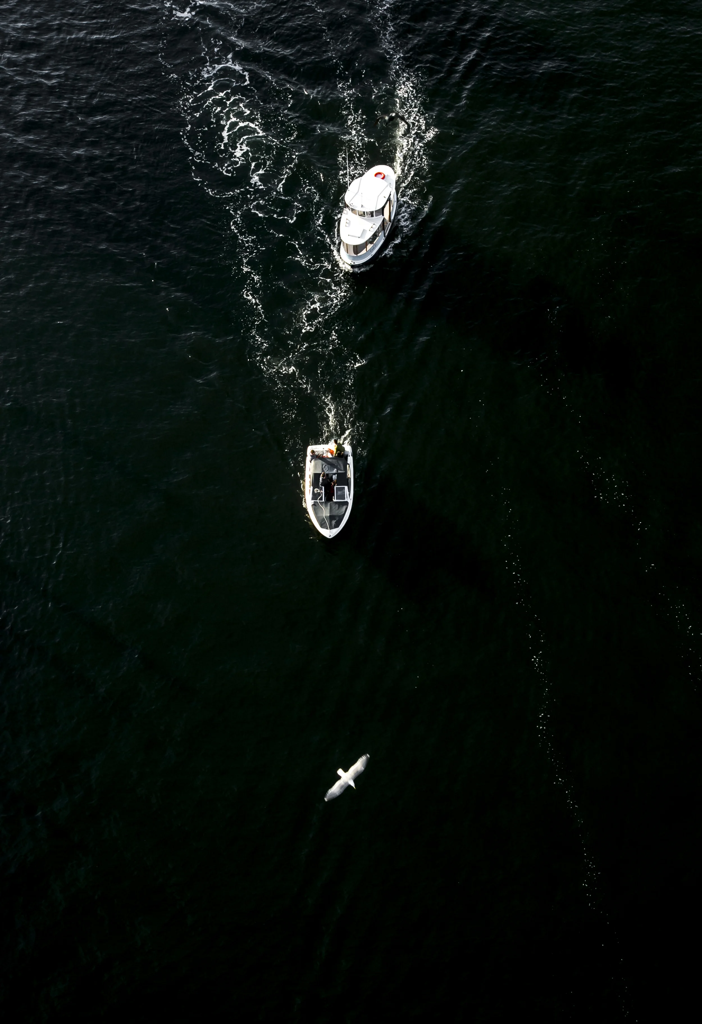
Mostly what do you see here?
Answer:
water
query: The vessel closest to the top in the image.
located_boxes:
[341,155,397,270]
